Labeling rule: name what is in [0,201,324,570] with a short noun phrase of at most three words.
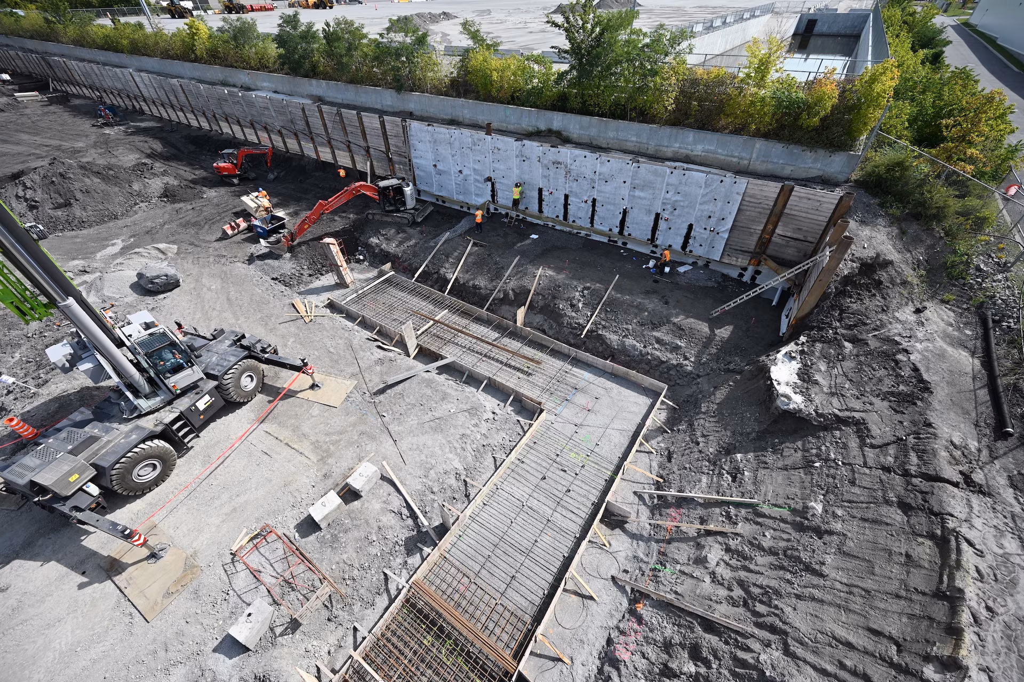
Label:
crane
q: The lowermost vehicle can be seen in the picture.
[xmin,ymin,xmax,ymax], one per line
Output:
[258,175,436,255]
